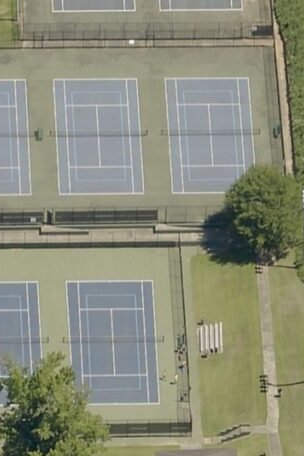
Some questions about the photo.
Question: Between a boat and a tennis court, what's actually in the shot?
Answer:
tennis court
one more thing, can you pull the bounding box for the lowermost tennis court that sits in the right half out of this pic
[165,78,256,193]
